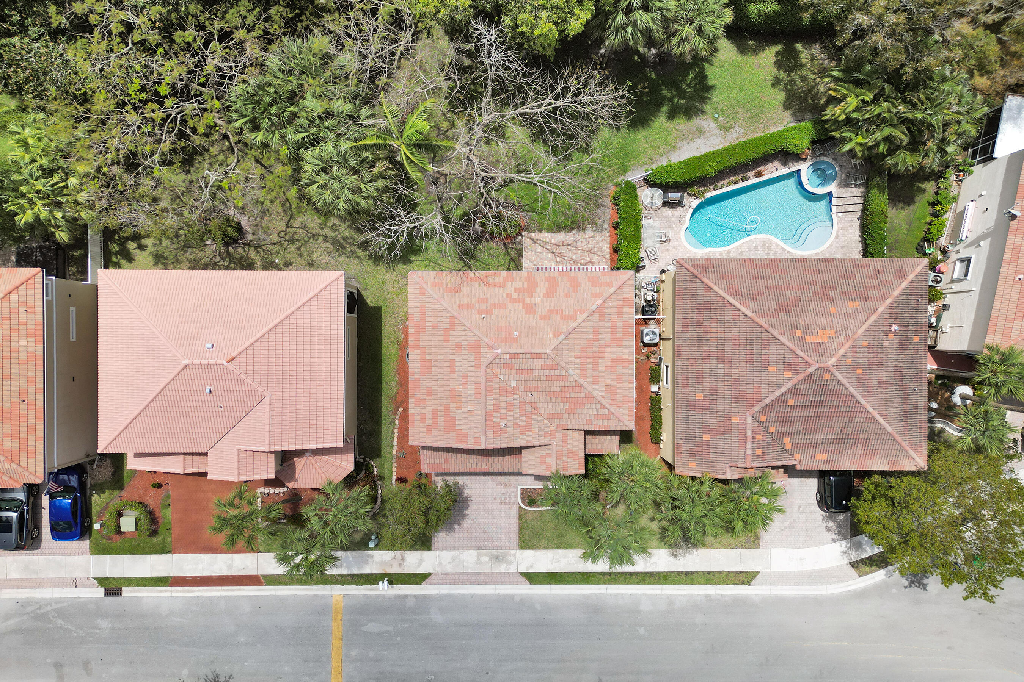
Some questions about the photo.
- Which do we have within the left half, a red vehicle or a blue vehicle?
blue vehicle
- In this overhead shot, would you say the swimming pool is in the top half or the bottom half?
top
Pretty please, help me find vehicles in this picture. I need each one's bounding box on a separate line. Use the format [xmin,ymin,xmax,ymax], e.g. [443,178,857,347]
[50,463,89,541]
[0,482,37,552]
[817,471,856,514]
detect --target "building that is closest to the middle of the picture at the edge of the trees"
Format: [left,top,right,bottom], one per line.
[407,269,636,475]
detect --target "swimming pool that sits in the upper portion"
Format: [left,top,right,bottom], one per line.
[679,153,843,256]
